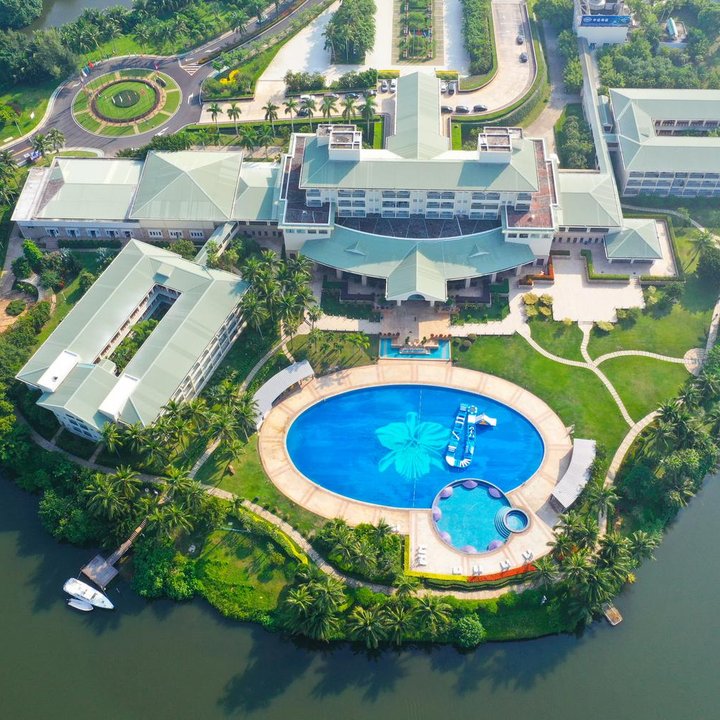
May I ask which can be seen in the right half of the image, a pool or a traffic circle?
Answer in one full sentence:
Visible in the right half of the image is a pool.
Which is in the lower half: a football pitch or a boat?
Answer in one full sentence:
There is a boat in the lower half.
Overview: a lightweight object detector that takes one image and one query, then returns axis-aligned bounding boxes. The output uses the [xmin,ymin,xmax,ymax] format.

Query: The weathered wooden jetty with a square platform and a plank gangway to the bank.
[79,516,149,588]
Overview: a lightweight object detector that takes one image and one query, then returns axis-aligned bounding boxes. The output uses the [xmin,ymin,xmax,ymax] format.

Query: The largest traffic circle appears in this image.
[71,68,181,137]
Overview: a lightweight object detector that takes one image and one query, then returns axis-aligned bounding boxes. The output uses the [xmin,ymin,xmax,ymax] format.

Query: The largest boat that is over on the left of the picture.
[62,575,113,608]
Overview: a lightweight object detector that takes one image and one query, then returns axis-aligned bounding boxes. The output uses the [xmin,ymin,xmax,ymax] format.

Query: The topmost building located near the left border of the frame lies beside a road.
[11,150,243,240]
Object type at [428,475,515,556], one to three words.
swimming pool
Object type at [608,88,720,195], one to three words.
building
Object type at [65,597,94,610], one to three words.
boat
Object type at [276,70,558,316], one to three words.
building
